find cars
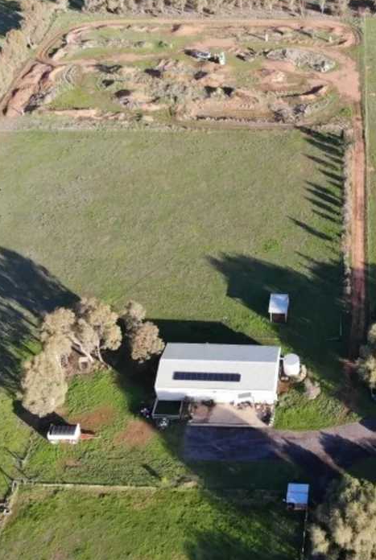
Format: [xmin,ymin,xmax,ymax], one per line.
[217,53,227,63]
[197,49,214,58]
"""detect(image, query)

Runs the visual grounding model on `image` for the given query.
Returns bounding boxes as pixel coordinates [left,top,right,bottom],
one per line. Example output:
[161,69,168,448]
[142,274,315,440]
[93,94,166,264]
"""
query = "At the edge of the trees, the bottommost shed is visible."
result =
[280,483,310,511]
